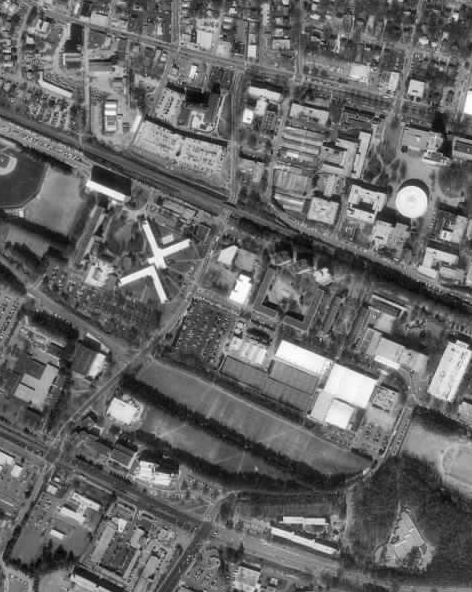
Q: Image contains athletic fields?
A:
Yes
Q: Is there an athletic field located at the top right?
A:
No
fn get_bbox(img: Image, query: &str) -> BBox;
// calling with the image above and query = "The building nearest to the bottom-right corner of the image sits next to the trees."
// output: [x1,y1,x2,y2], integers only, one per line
[389,512,425,559]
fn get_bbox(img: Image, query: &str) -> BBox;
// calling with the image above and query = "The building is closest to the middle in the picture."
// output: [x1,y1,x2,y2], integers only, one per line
[230,274,251,305]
